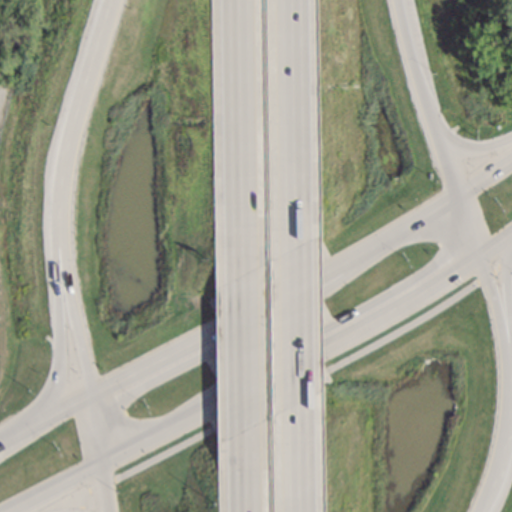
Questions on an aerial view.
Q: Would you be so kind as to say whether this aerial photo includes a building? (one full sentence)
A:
No, there appears to be no building in this shot.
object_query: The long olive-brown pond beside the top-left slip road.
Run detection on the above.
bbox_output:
[106,88,160,317]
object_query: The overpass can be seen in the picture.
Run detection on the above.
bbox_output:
[214,238,332,442]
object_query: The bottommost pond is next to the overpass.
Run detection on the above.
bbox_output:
[384,360,456,512]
